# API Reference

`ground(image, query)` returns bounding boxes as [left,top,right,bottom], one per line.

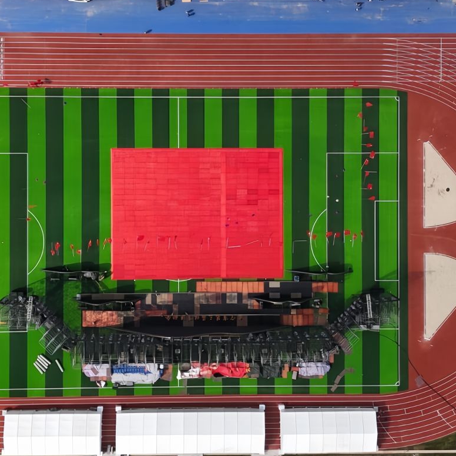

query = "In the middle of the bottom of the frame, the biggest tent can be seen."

[115,406,265,455]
